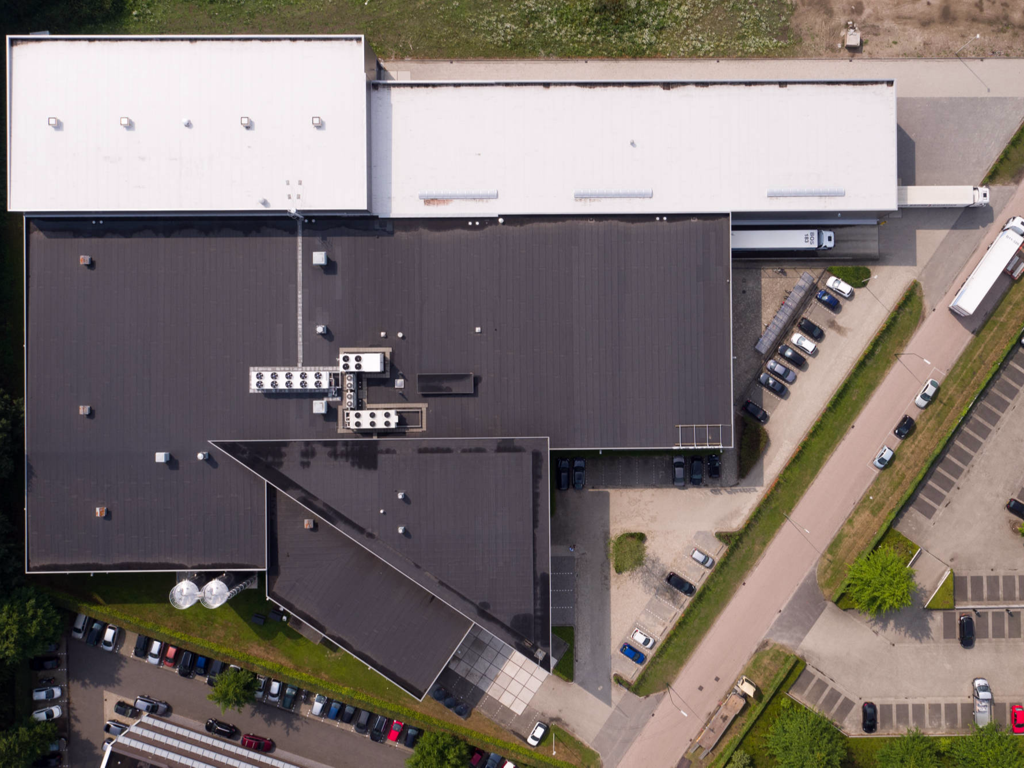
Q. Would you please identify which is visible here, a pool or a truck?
truck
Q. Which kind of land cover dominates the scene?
buildings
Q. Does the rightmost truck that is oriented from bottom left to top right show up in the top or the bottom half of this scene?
top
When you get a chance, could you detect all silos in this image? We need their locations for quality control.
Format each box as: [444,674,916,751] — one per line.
[169,571,219,607]
[199,571,248,607]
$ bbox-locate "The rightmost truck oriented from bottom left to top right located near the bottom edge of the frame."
[690,674,758,758]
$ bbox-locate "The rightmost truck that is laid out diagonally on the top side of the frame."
[949,214,1024,316]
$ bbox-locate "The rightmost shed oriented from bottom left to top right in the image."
[756,272,814,354]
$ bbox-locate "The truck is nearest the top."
[897,186,989,209]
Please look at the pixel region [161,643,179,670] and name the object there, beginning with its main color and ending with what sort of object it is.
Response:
red car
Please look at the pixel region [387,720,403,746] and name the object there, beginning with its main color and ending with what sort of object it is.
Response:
red car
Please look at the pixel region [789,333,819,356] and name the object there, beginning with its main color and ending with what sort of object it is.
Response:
white car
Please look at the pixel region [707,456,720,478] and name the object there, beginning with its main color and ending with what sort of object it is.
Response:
black vehicle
